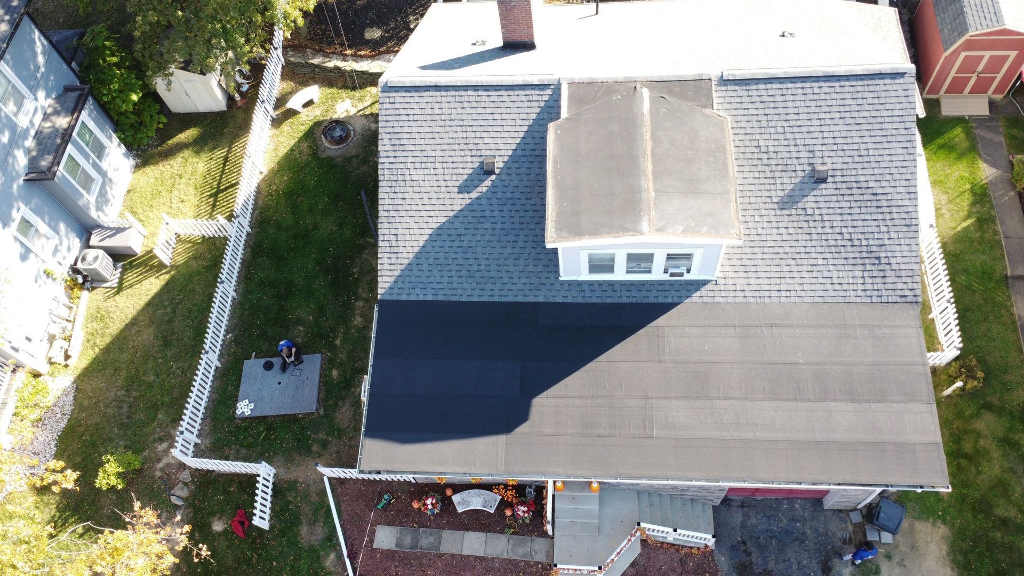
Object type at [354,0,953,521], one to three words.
house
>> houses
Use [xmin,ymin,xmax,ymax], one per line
[354,0,953,521]
[0,1,136,371]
